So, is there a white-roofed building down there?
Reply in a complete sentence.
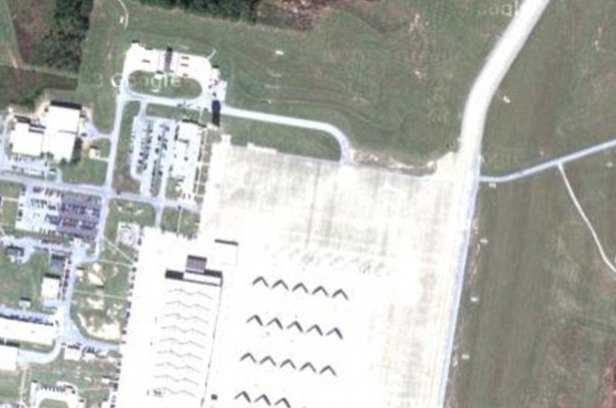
Yes, a white-roofed building can be made out from above.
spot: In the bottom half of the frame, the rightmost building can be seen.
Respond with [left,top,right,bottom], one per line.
[212,243,238,267]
